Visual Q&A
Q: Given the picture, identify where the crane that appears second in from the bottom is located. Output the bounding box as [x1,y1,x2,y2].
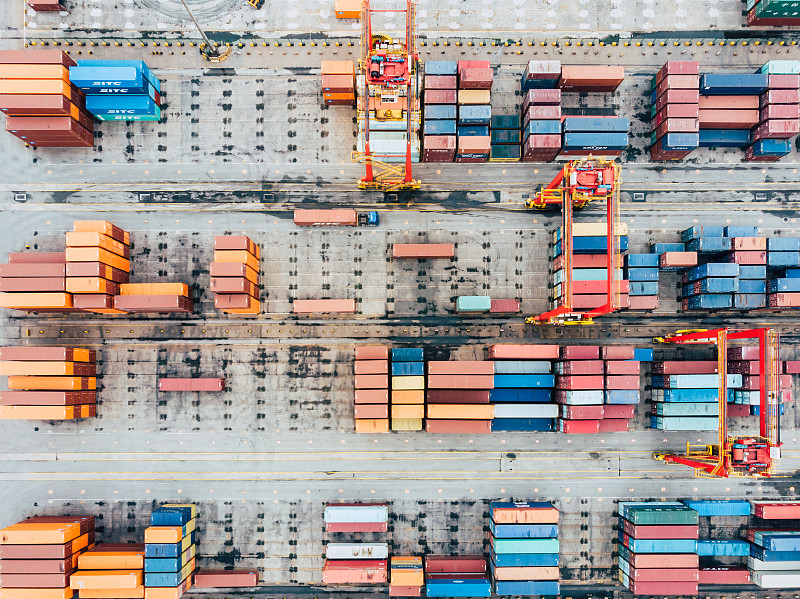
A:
[527,154,623,332]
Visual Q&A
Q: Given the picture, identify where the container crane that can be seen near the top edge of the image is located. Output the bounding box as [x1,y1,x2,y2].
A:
[355,0,425,191]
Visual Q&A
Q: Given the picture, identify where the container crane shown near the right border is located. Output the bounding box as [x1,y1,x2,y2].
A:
[655,324,780,482]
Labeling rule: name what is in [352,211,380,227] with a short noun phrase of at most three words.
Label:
vehicle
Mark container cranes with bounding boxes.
[655,324,780,482]
[527,154,623,332]
[355,0,425,191]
